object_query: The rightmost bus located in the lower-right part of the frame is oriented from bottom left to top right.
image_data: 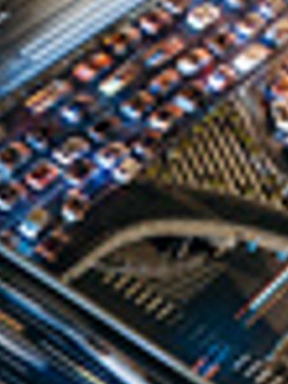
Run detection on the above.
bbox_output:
[222,250,288,332]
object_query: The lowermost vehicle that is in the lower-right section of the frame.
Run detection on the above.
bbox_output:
[192,347,227,376]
